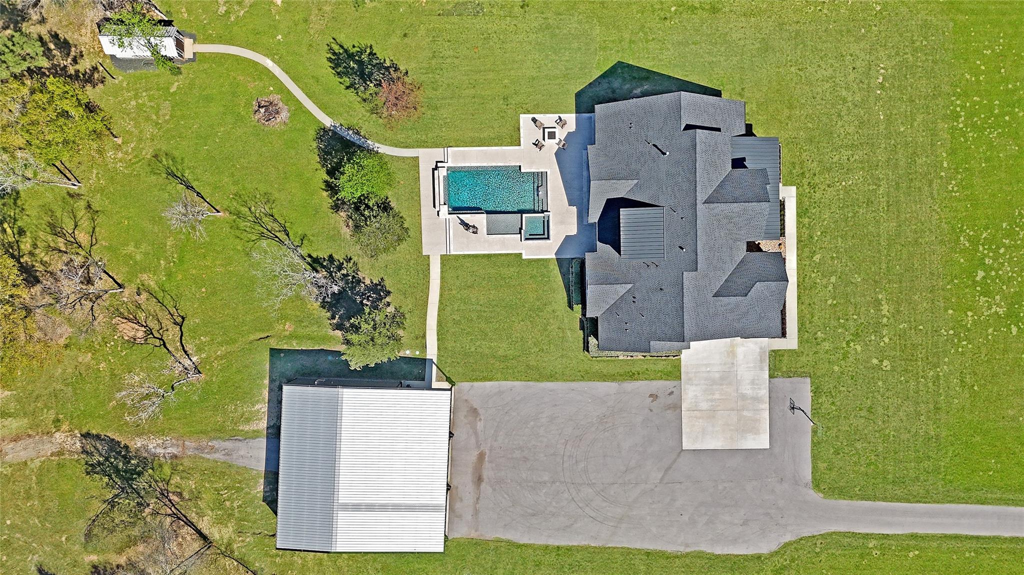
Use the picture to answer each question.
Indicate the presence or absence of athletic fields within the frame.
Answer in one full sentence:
No, the photo shows no athletic field.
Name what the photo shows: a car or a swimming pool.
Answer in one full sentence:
Visible in the photo is a swimming pool.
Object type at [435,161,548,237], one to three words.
swimming pool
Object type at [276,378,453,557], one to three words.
building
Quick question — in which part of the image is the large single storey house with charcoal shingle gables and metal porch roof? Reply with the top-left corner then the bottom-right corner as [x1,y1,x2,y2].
[585,92,789,352]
